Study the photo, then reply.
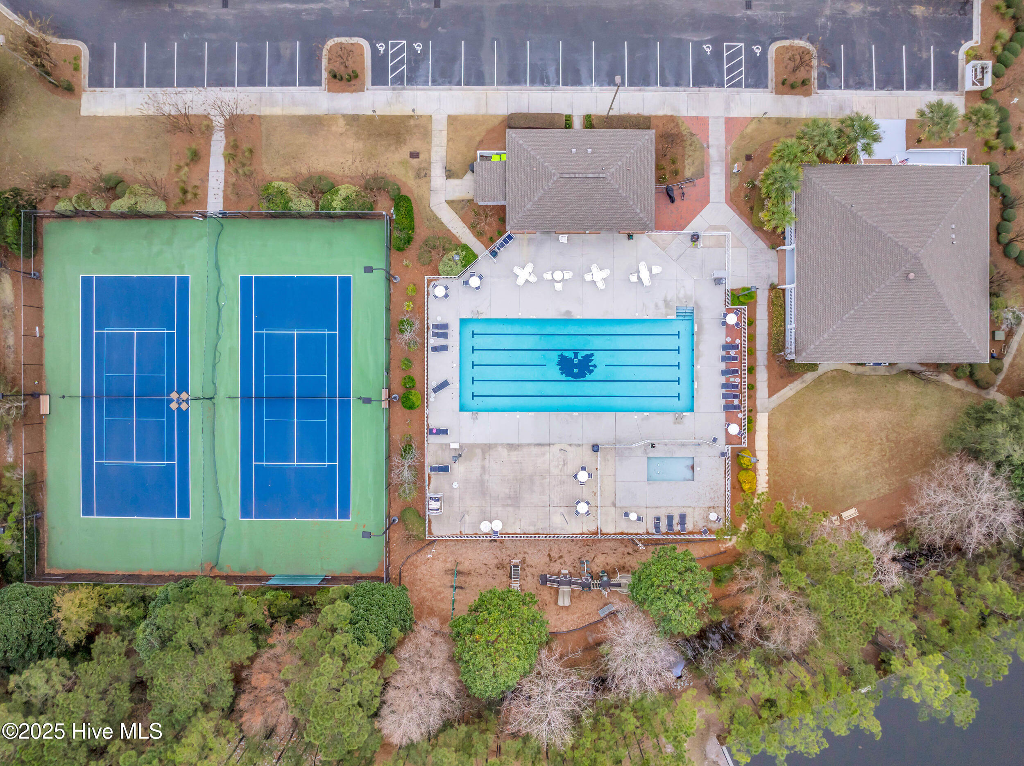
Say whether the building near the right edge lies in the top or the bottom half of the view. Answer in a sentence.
The top half of the photo is where the building near the right edge is.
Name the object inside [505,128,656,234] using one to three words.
building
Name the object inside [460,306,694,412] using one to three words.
swimming pool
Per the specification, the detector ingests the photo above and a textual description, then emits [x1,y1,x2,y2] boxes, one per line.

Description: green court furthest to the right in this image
[215,218,390,575]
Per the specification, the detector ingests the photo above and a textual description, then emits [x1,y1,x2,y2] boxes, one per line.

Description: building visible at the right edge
[776,146,990,364]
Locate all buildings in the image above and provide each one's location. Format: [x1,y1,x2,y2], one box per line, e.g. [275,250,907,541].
[505,128,656,234]
[776,146,990,364]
